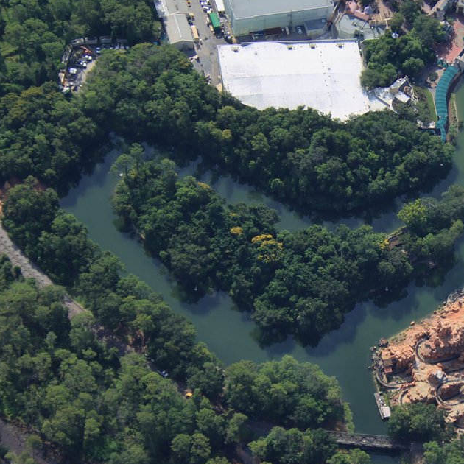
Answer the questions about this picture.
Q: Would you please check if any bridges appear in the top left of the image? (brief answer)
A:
No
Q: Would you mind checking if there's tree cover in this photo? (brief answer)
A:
Yes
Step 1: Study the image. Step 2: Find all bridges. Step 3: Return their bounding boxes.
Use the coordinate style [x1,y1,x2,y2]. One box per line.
[355,431,412,455]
